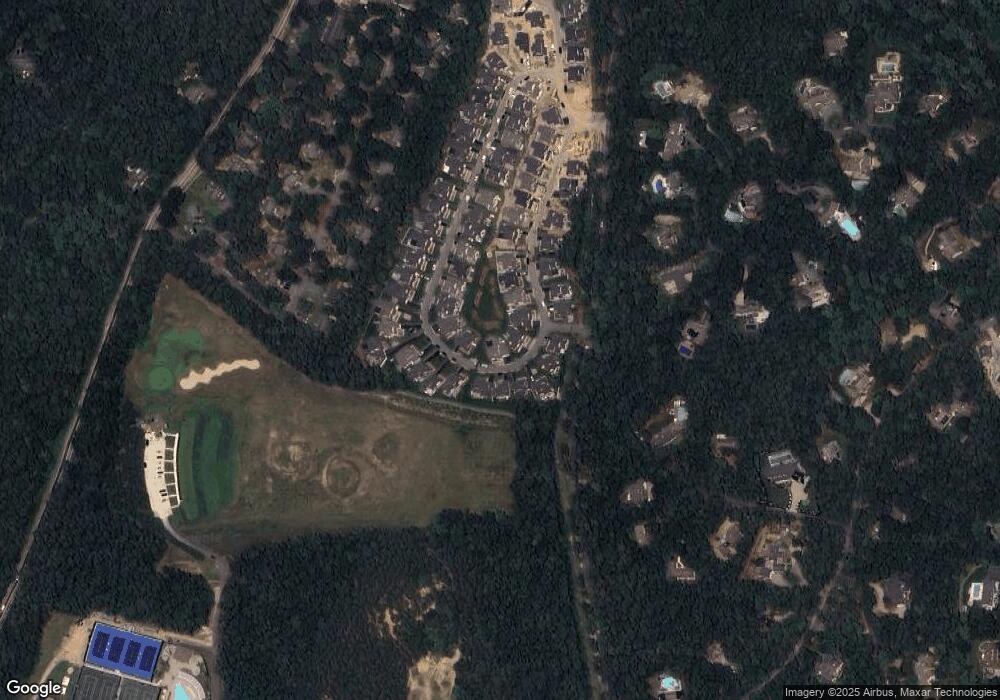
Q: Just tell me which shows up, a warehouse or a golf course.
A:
golf course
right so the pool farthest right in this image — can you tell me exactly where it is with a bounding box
[970,582,983,601]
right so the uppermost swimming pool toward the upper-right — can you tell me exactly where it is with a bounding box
[877,52,900,73]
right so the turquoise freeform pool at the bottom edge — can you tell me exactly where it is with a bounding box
[659,674,681,690]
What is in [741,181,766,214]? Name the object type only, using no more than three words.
house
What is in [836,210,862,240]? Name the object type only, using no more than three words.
swimming pool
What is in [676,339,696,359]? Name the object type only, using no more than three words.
swimming pool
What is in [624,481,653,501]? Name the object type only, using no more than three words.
house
